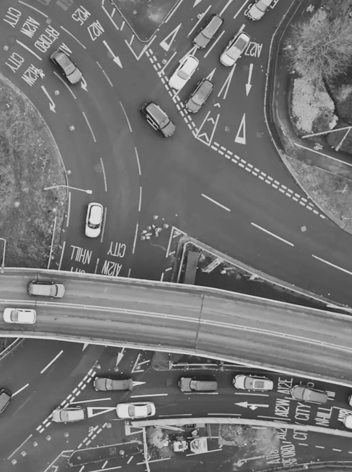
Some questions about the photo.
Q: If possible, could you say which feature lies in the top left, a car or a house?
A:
car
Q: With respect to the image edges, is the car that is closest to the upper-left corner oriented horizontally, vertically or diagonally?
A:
diagonally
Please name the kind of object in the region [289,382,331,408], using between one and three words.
car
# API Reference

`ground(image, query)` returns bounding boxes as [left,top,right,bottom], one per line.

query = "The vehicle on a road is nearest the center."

[84,203,104,237]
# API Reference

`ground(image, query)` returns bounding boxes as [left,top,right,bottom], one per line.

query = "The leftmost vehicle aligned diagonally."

[46,46,83,87]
